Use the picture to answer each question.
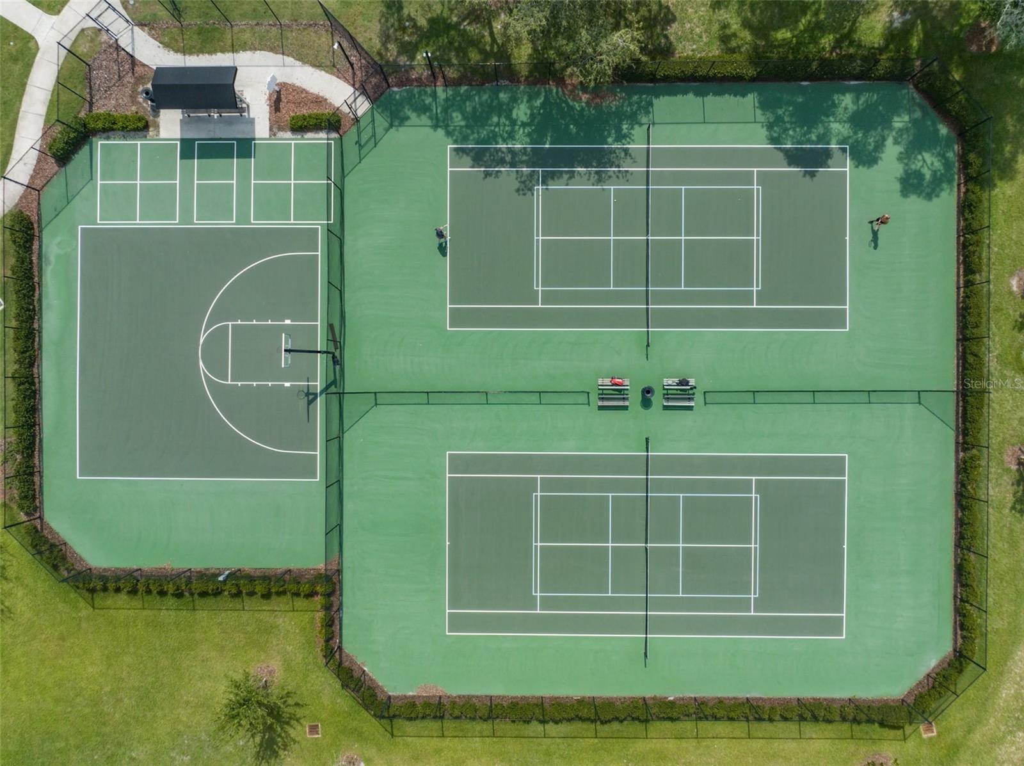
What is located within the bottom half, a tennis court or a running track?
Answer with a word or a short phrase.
tennis court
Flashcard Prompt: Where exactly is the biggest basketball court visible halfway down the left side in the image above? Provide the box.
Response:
[77,226,320,480]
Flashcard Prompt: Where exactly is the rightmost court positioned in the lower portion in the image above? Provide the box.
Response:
[446,452,848,638]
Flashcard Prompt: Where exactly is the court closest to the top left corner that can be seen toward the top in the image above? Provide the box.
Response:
[97,141,179,223]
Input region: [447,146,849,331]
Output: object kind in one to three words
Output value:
tennis court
